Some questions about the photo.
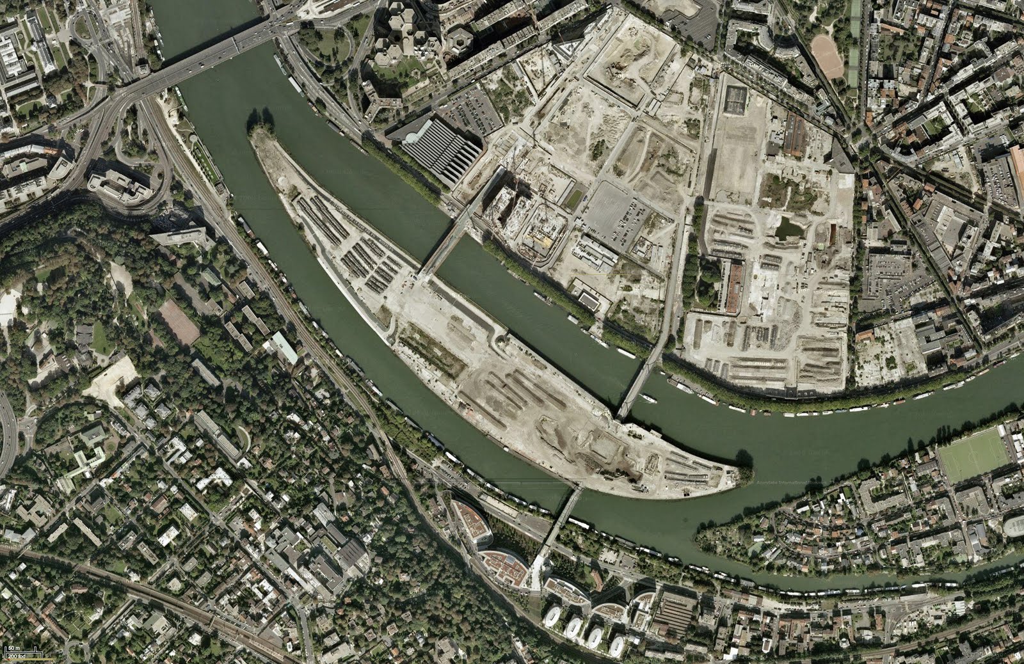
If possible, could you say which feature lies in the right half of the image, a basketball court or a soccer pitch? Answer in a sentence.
The one visible in the right half of the image is a soccer pitch.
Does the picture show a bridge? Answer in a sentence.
Yes, looking at the shot, I can spot a bridge.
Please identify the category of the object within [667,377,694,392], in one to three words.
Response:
boat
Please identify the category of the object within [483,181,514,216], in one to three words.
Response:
building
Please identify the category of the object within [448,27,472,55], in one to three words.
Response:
building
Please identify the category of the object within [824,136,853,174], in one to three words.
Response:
shed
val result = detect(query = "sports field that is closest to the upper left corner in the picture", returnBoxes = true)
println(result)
[158,299,200,345]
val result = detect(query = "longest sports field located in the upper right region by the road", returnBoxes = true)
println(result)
[811,35,844,79]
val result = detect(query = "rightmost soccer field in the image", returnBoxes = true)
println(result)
[942,429,1008,481]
